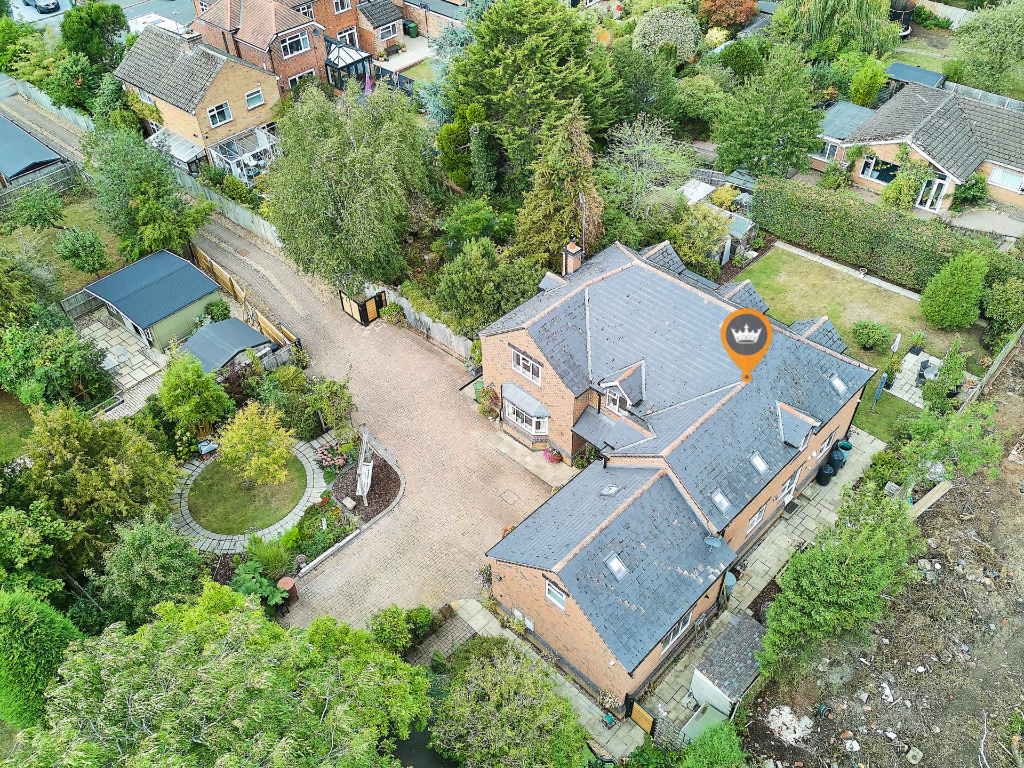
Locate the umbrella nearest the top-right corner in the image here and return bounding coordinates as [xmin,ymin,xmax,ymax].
[888,326,904,355]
